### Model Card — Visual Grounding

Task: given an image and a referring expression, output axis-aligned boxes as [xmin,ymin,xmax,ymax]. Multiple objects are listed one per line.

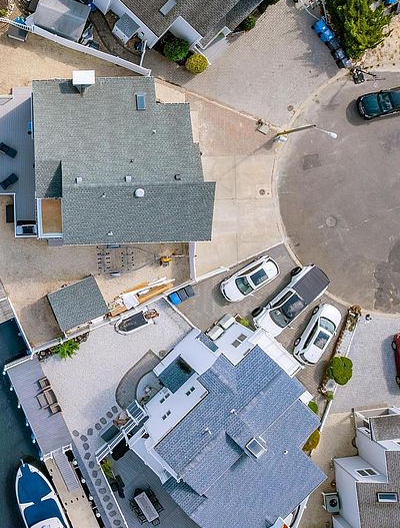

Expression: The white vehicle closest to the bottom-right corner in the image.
[292,302,341,366]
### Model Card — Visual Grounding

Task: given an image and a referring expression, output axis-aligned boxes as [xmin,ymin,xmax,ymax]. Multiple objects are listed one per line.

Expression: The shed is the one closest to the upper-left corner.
[34,0,91,43]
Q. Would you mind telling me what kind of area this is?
residential area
